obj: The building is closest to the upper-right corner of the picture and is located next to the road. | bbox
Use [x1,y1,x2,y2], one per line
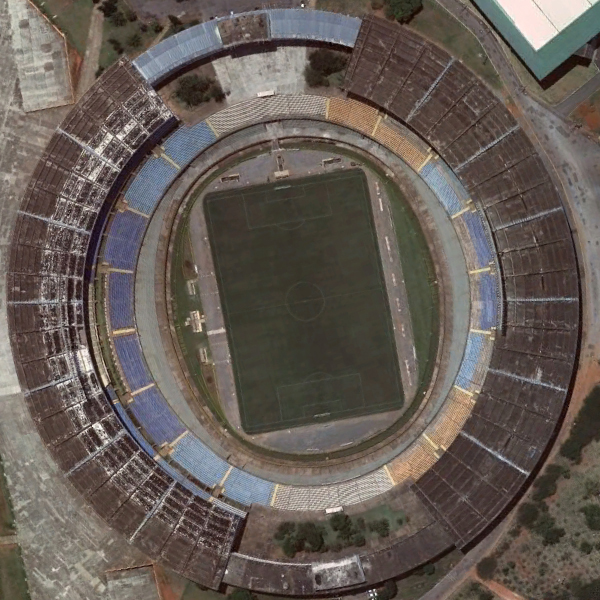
[473,0,600,80]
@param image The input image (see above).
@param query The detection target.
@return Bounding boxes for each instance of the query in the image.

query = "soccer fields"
[206,169,403,432]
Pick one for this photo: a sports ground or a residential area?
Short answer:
sports ground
